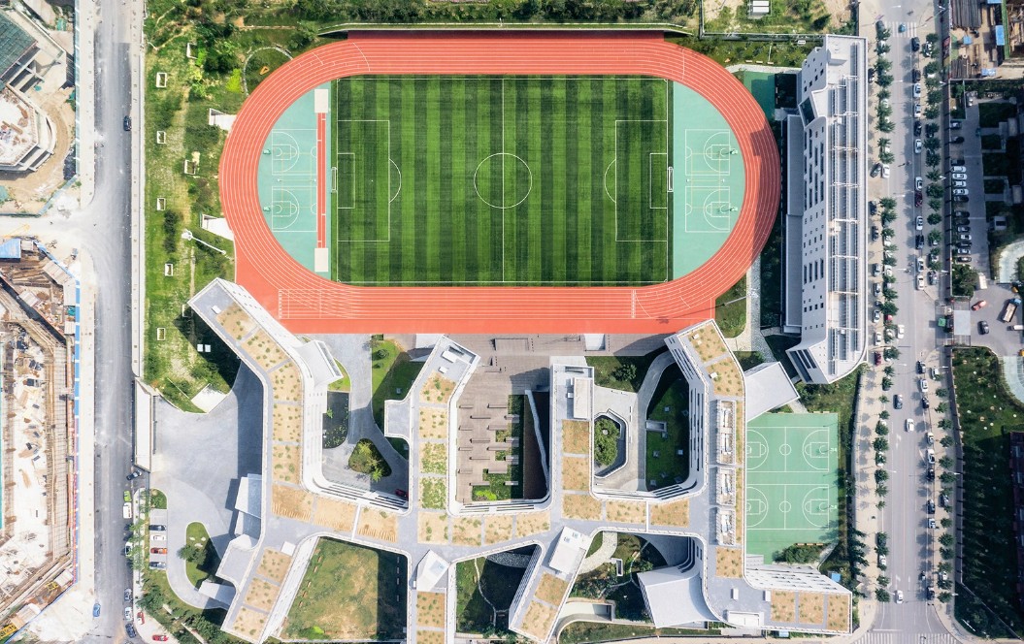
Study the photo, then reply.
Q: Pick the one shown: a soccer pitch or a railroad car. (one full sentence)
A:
I can see a soccer pitch in this picture.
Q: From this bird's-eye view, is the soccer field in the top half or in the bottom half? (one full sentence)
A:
You can find the soccer field in the top half.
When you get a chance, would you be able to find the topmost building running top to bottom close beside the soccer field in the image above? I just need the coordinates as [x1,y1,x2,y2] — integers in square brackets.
[771,34,869,384]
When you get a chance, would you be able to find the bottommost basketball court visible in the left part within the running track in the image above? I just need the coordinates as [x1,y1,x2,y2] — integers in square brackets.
[272,186,317,231]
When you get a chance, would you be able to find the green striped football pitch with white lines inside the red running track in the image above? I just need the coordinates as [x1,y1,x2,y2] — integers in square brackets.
[331,74,674,287]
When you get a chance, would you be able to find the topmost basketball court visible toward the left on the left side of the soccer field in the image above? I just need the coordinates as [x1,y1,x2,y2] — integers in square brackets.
[272,129,317,175]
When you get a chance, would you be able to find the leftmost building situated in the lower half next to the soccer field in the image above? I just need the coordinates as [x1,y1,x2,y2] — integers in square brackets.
[187,278,852,644]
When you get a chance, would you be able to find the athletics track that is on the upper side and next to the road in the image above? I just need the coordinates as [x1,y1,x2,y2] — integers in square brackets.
[220,31,780,333]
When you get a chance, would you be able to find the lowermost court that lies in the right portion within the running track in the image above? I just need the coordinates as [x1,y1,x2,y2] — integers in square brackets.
[686,186,730,232]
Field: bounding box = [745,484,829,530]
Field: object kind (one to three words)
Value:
basketball court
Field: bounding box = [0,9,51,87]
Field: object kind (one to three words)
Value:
building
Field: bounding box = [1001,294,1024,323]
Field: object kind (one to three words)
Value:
truck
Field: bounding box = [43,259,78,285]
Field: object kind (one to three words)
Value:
shed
